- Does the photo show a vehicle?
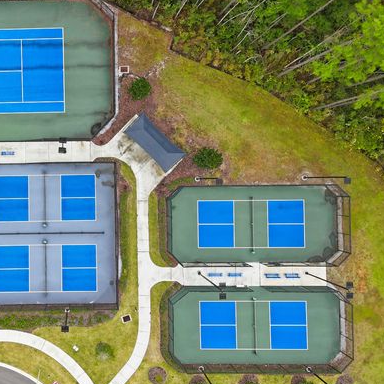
No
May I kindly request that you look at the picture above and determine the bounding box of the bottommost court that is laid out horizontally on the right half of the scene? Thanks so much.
[174,286,341,365]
